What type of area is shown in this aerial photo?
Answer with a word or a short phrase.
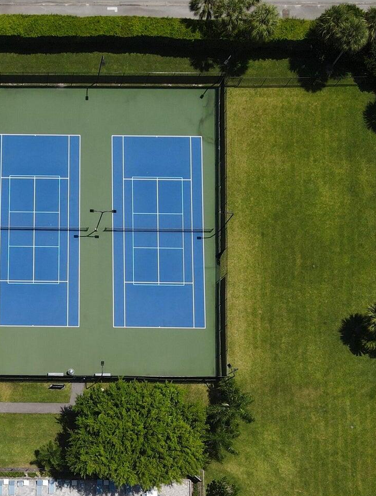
sports ground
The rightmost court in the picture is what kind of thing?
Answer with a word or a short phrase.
tennis court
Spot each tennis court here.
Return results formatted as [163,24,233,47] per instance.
[0,86,97,378]
[96,86,220,378]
